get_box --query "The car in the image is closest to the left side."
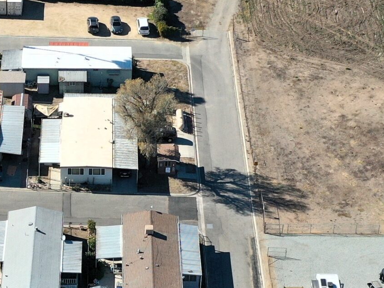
[85,16,100,33]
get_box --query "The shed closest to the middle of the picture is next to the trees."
[157,141,178,174]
